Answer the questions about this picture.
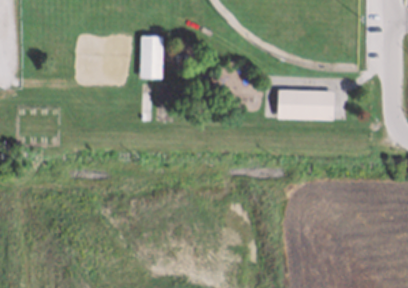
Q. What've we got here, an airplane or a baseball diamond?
baseball diamond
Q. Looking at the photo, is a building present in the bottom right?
No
